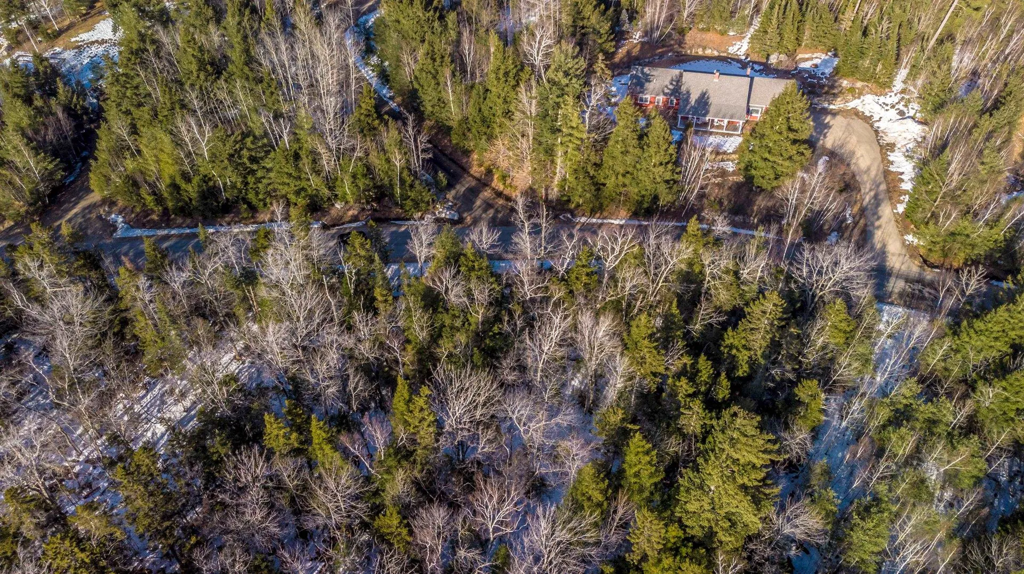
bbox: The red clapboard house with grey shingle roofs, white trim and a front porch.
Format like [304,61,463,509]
[628,61,795,135]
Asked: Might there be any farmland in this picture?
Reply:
No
